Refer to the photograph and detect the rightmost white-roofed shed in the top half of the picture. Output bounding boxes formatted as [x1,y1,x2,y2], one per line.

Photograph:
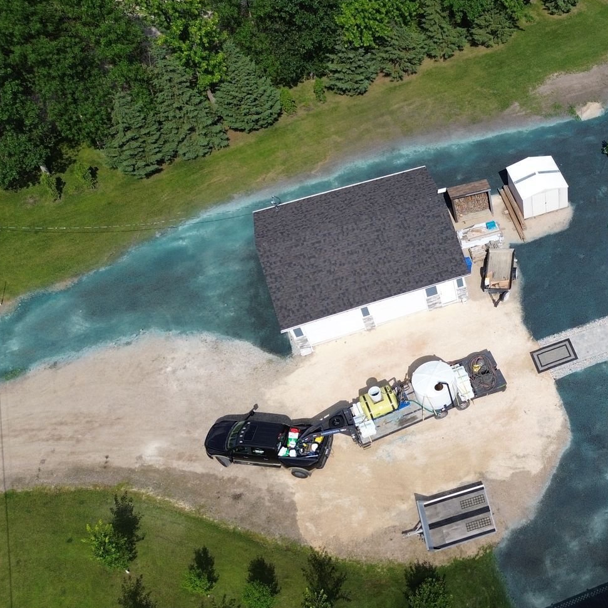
[507,155,568,219]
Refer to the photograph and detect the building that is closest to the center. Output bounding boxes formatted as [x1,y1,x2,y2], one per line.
[255,165,471,354]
